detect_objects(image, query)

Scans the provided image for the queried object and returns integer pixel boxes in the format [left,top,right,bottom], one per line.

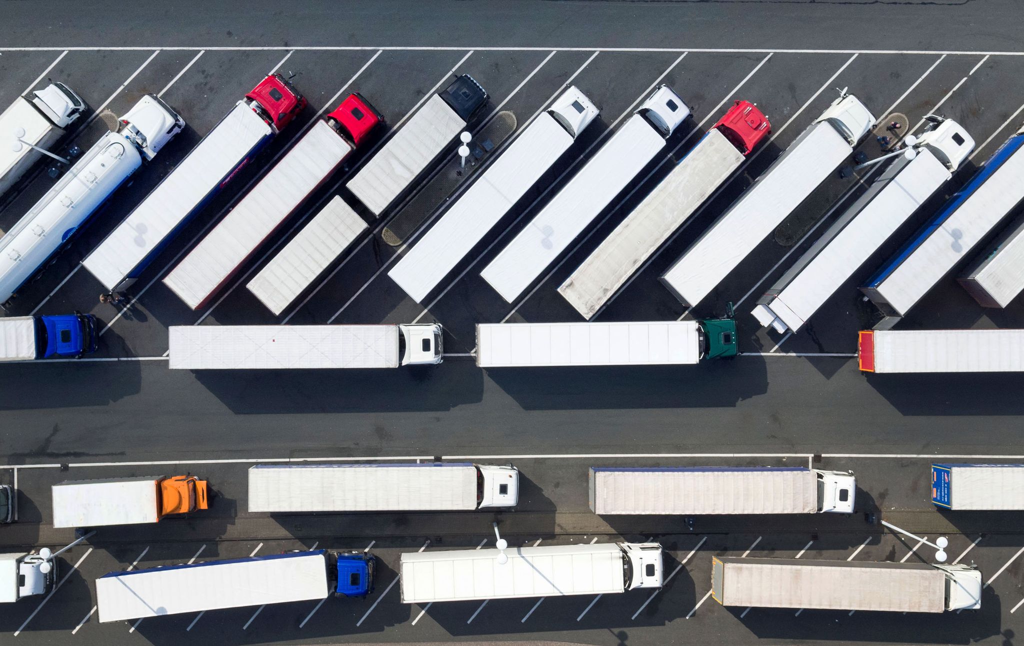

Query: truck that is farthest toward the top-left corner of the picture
[0,77,92,205]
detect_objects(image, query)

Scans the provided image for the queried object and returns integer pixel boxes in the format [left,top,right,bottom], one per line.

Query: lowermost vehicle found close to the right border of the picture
[708,554,979,612]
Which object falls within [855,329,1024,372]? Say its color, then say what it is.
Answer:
white truck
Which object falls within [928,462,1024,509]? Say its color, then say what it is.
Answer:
white truck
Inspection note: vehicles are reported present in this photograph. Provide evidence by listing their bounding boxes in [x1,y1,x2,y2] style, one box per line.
[168,321,443,369]
[0,478,17,526]
[708,554,979,612]
[953,210,1024,309]
[0,547,66,602]
[163,91,388,311]
[248,460,522,512]
[387,83,603,305]
[479,82,692,304]
[754,114,972,337]
[473,298,739,366]
[857,127,1024,331]
[928,462,1024,509]
[656,86,875,309]
[588,465,855,514]
[0,311,102,360]
[94,547,375,623]
[80,70,307,294]
[855,329,1024,372]
[0,77,92,205]
[399,539,664,604]
[553,97,771,320]
[0,91,190,309]
[52,470,208,529]
[246,71,494,316]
